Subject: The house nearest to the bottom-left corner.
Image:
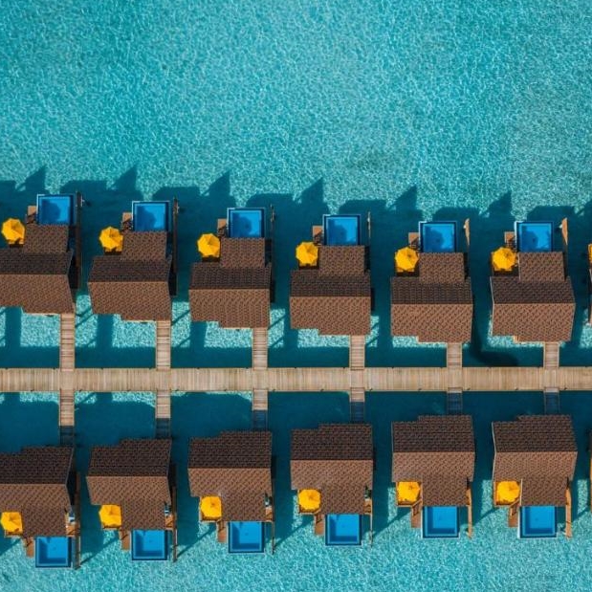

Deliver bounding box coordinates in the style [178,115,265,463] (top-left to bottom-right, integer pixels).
[0,446,83,573]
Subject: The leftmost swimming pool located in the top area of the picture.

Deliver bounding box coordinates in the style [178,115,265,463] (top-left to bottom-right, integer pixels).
[35,194,74,230]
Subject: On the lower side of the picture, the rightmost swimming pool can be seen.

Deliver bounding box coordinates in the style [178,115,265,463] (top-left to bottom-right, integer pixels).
[518,502,557,539]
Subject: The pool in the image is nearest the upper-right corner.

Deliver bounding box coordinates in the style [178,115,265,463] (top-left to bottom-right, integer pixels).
[514,222,554,256]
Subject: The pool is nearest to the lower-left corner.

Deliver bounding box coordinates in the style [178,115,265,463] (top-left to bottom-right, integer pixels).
[31,533,72,569]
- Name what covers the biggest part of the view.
water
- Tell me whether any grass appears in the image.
No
